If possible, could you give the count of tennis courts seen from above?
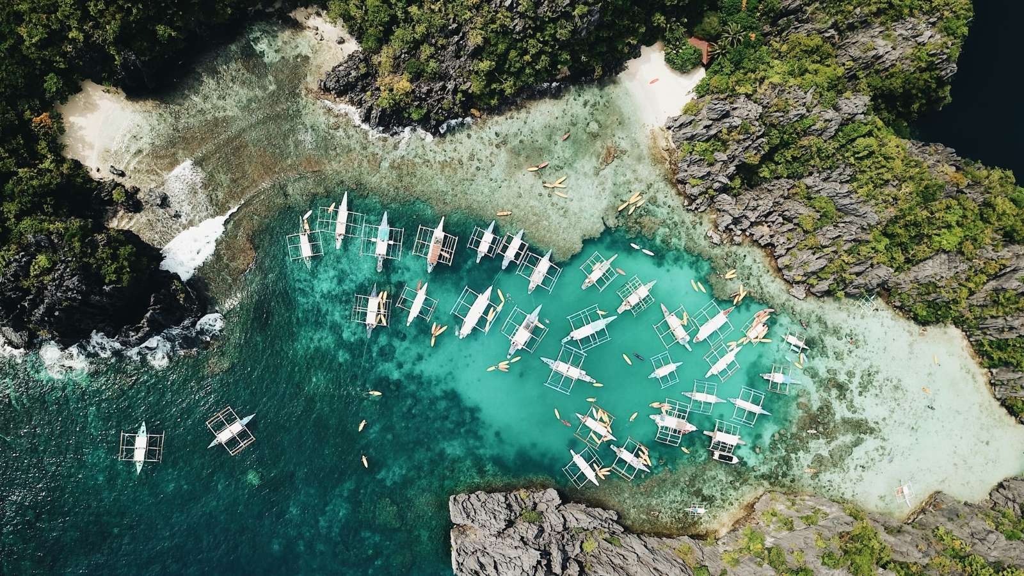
0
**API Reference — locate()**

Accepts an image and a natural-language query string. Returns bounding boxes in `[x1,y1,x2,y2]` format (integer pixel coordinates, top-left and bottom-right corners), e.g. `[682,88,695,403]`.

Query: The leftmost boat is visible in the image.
[119,422,164,476]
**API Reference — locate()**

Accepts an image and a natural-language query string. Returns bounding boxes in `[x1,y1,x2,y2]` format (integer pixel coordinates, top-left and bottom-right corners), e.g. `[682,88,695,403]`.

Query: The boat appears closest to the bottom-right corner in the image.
[895,479,917,508]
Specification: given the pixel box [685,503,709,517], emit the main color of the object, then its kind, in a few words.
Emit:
white boat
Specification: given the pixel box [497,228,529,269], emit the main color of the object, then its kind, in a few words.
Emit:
white boat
